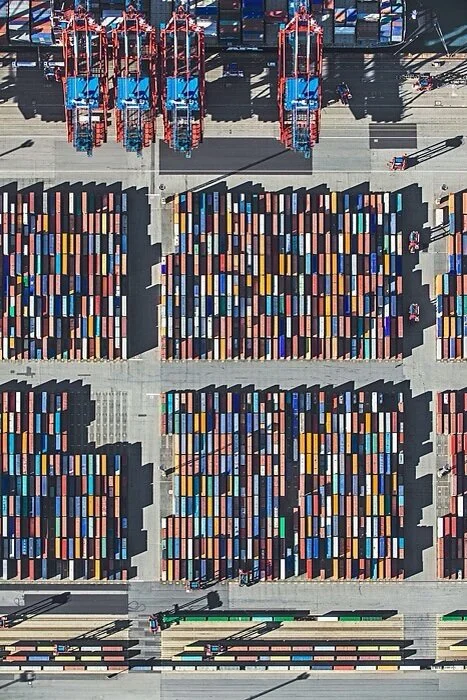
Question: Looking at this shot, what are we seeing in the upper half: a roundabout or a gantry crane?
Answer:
gantry crane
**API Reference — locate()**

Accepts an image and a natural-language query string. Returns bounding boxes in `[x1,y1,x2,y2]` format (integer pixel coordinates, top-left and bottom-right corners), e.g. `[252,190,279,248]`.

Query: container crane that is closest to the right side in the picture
[272,0,324,163]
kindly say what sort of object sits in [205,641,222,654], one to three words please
vehicle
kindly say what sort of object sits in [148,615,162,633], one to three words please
vehicle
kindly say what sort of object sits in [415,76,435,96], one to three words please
work vehicle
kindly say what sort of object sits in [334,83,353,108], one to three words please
work vehicle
